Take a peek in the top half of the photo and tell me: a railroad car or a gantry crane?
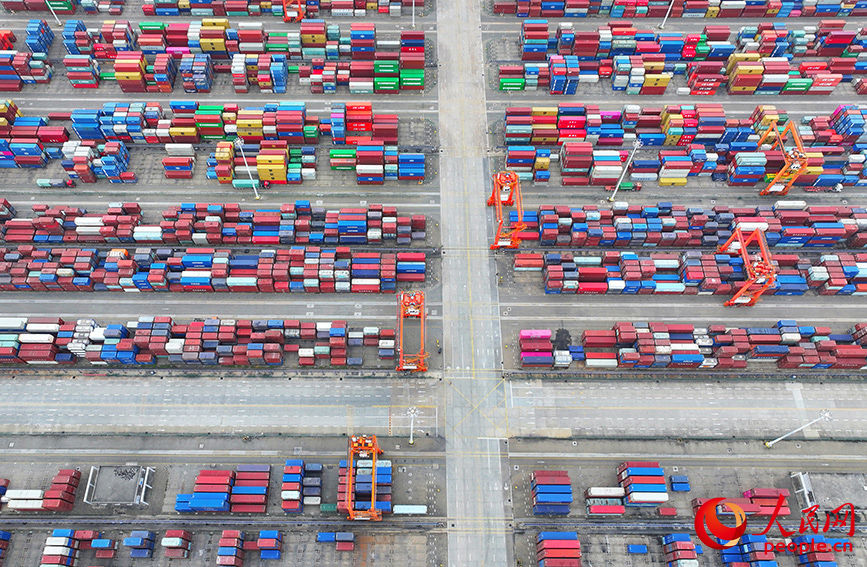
gantry crane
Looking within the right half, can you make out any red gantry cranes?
Yes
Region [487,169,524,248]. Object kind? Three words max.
container crane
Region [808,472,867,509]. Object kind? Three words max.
shed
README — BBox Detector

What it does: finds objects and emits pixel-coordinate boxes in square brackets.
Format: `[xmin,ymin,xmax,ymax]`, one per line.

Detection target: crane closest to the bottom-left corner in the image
[340,435,385,524]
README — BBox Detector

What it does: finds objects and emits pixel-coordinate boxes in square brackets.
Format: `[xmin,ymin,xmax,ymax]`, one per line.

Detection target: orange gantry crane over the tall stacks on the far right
[754,118,812,194]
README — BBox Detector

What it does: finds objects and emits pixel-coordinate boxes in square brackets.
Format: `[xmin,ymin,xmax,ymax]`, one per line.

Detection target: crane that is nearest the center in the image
[395,289,430,372]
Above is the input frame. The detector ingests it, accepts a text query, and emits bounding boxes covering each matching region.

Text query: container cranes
[487,169,524,248]
[283,0,308,23]
[754,118,812,194]
[713,223,780,303]
[395,289,430,372]
[340,435,385,524]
